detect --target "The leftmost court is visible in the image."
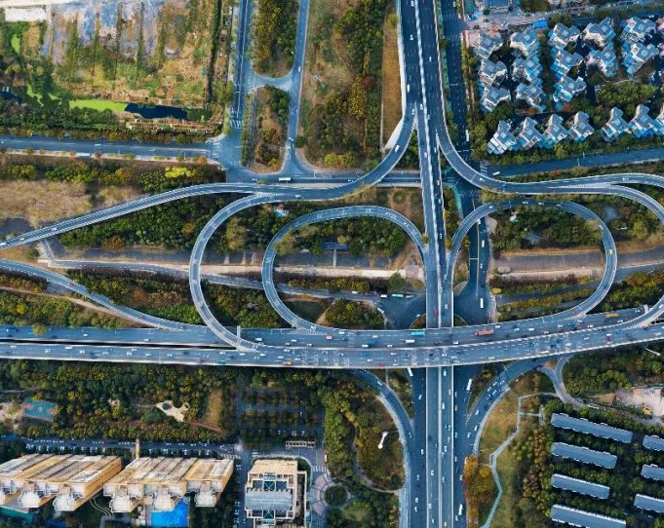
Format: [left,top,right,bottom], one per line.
[22,398,56,420]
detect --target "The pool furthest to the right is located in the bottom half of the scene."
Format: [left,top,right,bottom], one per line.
[149,497,190,528]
